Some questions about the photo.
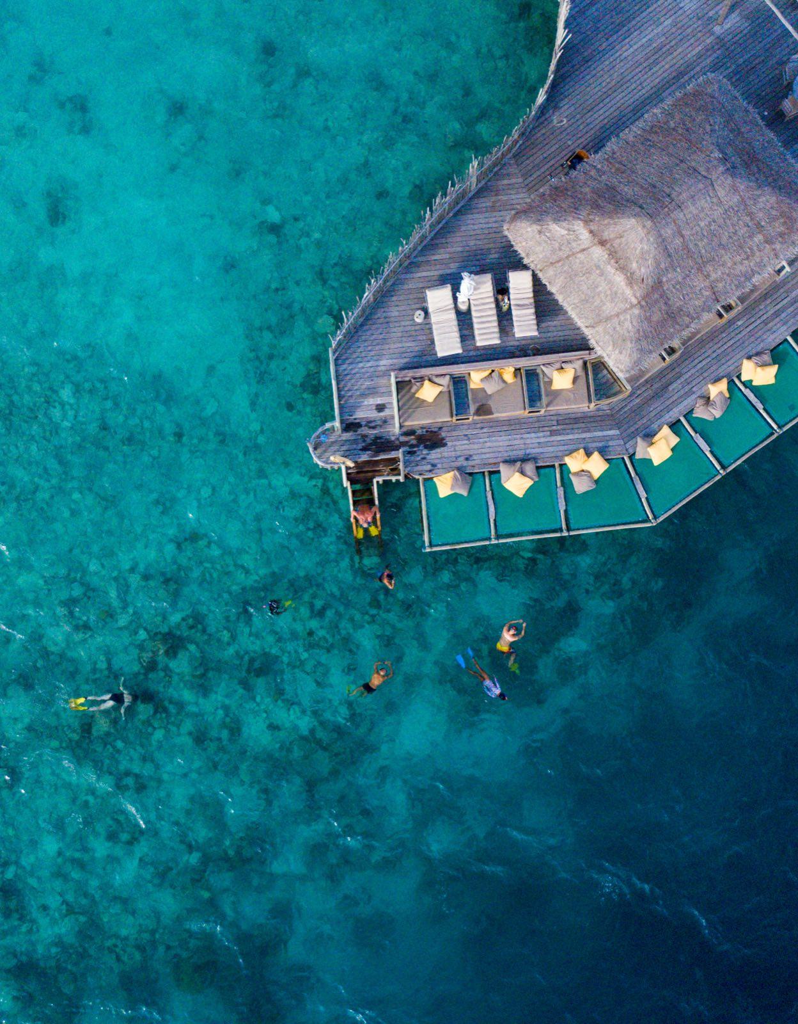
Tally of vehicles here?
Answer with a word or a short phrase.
0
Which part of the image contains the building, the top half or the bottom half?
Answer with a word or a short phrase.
top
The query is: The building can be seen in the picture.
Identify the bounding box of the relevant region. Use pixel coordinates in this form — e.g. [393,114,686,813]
[502,80,798,384]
